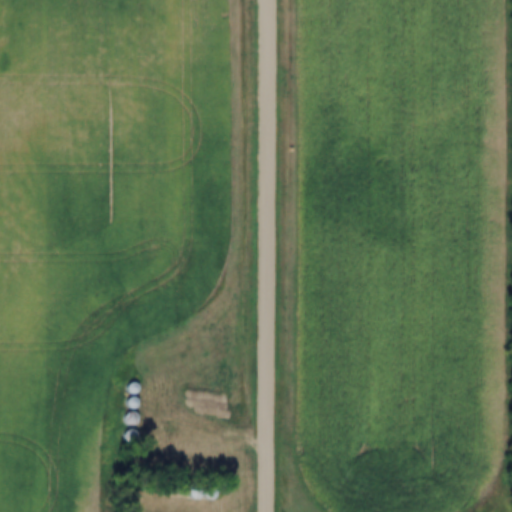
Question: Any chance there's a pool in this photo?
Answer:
No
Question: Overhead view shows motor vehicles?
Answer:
No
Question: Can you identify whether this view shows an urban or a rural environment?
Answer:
rural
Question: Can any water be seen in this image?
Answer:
No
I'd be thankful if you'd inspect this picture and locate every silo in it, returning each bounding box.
[124,410,142,427]
[124,428,140,444]
[127,380,142,395]
[126,395,142,410]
